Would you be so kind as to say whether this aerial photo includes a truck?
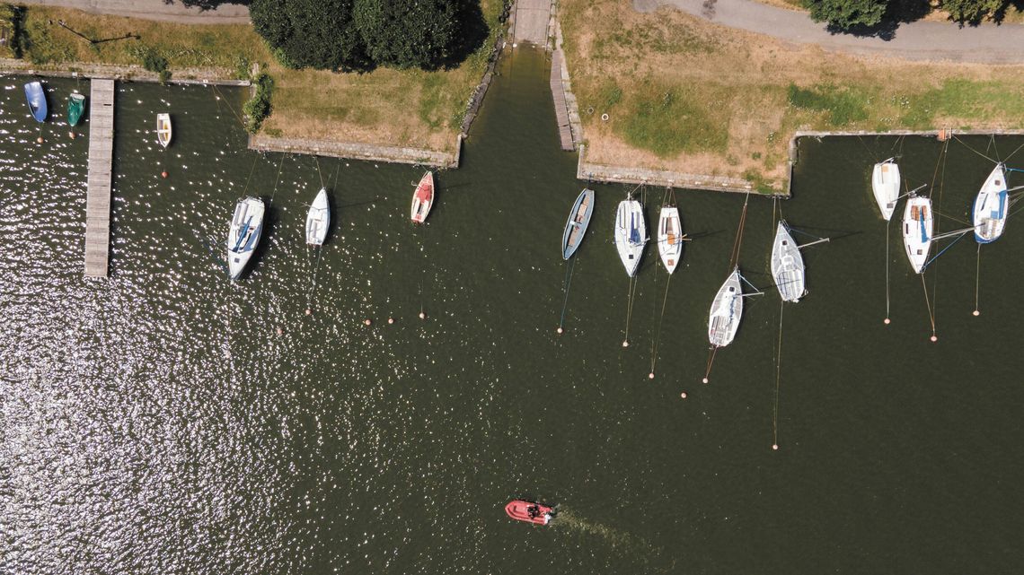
No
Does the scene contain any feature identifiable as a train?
No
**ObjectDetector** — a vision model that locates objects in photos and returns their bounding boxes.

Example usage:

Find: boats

[970,162,1024,242]
[708,270,765,346]
[615,196,650,277]
[871,158,927,221]
[24,81,50,123]
[67,93,87,127]
[302,187,330,248]
[770,221,829,304]
[156,112,172,148]
[900,194,975,273]
[562,188,595,260]
[411,171,434,225]
[504,499,555,526]
[657,204,692,274]
[202,197,266,280]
